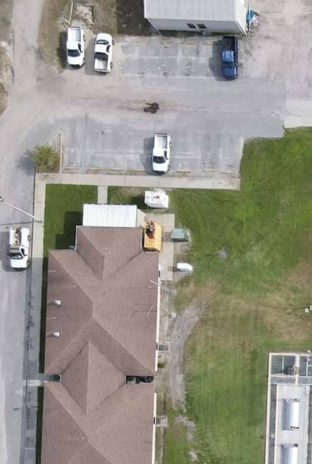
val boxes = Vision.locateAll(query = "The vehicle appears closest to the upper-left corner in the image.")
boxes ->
[66,27,85,68]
